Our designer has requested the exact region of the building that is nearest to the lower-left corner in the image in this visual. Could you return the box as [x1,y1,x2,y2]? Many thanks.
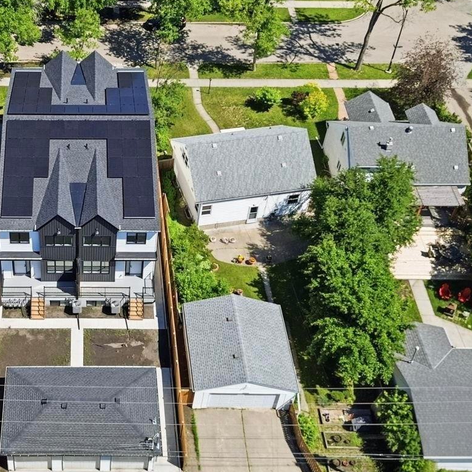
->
[0,365,168,466]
